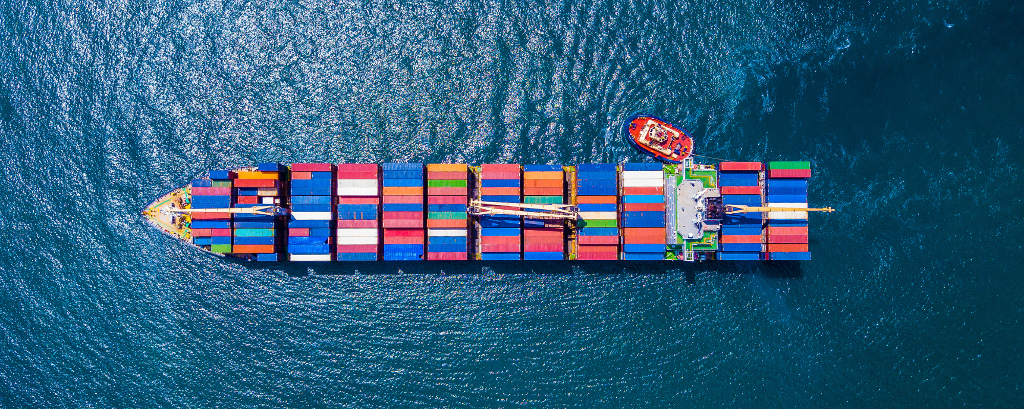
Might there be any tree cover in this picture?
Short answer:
No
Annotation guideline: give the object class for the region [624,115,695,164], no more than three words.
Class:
boat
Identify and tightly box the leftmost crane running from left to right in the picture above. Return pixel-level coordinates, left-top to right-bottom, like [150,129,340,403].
[156,204,292,217]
